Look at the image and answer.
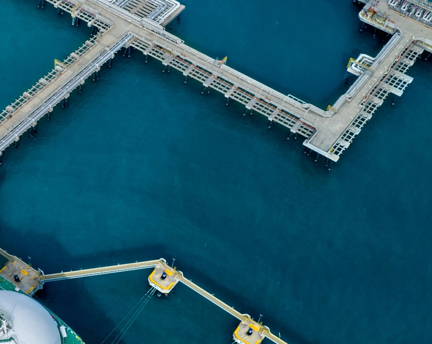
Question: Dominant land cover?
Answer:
water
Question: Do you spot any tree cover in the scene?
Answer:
No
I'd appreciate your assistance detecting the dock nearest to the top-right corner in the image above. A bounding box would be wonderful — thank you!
[302,38,425,171]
